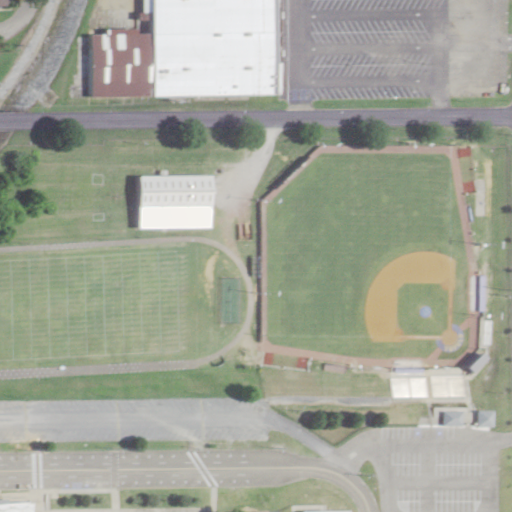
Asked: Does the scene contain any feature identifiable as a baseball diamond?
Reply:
Yes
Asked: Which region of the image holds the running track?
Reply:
left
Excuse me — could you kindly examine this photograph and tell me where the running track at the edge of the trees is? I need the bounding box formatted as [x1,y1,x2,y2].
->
[0,236,254,379]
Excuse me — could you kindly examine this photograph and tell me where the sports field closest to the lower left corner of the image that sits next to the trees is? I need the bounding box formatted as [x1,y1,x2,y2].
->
[0,254,203,360]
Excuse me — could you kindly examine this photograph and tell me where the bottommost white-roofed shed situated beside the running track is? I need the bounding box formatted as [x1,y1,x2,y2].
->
[138,176,216,230]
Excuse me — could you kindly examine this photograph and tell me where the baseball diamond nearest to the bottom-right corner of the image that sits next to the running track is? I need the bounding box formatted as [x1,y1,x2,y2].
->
[261,146,476,368]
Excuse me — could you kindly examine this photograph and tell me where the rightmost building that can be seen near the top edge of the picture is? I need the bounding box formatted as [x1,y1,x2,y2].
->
[151,0,285,98]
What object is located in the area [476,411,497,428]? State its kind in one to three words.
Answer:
building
